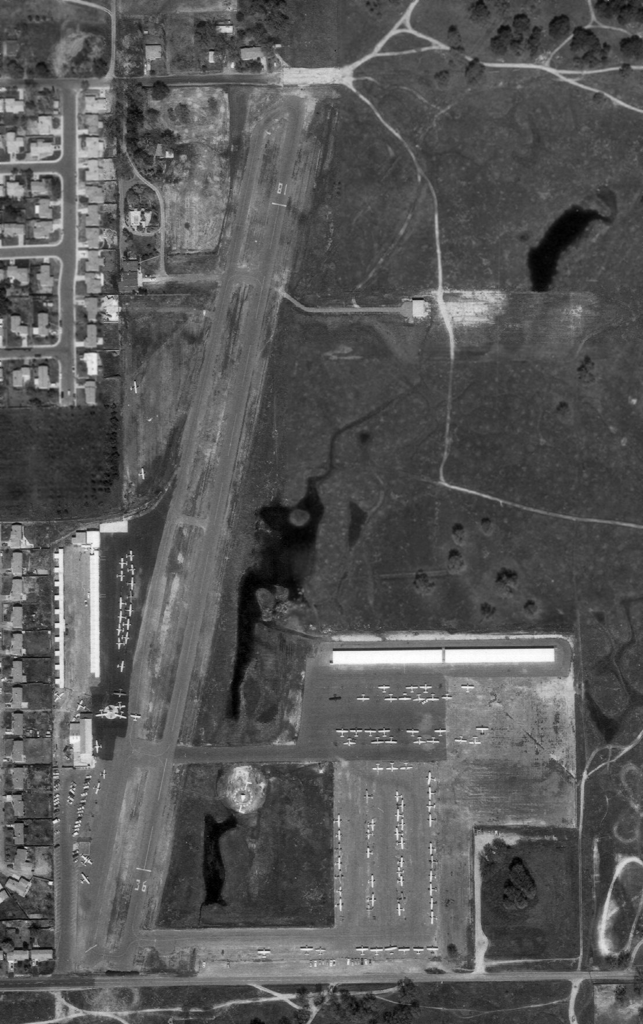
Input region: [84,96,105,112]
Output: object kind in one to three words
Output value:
house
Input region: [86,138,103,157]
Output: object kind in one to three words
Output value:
house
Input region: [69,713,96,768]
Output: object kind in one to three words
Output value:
building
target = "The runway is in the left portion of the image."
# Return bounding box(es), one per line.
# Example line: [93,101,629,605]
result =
[125,98,305,940]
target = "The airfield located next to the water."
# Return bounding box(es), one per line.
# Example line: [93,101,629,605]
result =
[54,96,573,974]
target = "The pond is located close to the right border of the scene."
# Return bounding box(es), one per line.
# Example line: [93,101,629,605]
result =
[528,205,611,292]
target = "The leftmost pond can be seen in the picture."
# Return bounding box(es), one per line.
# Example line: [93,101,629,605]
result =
[203,813,237,906]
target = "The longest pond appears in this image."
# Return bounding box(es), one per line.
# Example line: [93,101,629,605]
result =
[231,479,324,719]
